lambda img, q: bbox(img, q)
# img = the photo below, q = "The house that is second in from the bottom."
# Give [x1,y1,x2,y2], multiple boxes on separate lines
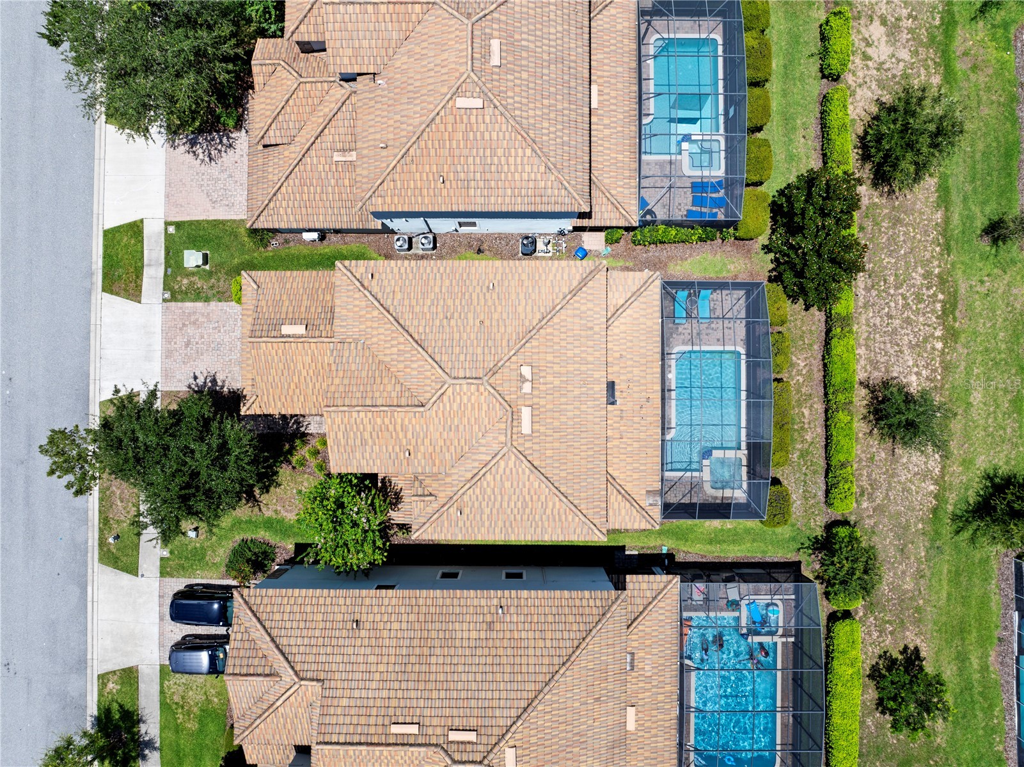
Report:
[239,259,663,542]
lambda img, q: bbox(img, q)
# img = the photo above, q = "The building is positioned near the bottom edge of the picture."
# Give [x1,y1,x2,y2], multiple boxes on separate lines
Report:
[218,564,682,767]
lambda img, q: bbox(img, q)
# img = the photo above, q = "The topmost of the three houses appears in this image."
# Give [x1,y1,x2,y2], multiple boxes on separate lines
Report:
[246,0,641,234]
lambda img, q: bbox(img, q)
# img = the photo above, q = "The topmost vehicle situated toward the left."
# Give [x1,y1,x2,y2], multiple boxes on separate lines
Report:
[167,585,260,629]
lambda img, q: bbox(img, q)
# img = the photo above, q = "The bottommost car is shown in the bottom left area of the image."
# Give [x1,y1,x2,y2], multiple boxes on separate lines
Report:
[167,632,227,674]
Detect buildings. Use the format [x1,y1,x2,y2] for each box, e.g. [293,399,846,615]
[239,259,663,542]
[246,0,641,234]
[218,564,682,767]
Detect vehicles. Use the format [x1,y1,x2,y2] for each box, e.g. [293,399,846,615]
[167,585,260,629]
[167,632,227,674]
